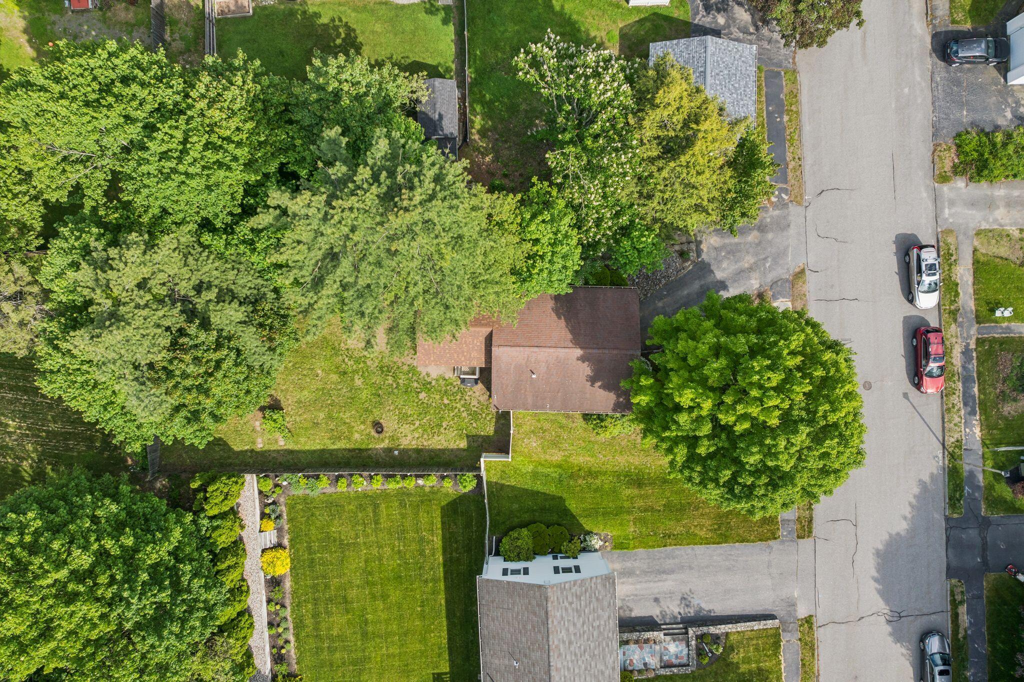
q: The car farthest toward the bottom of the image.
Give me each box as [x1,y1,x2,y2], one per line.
[919,630,956,682]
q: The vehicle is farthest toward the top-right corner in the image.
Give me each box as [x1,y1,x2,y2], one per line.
[942,32,1009,68]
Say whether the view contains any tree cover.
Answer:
Yes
